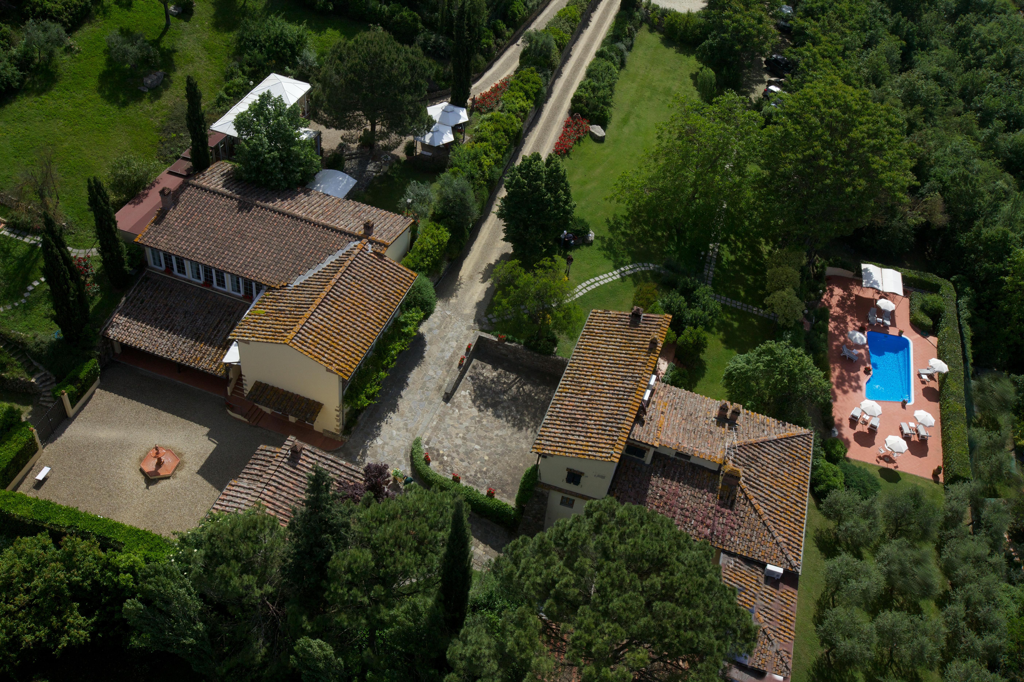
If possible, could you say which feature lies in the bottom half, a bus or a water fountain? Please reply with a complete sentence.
It is a water fountain that can be seen in the bottom half.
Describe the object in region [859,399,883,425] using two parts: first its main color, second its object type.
white umbrella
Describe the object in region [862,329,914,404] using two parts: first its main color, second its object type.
blue swimming pool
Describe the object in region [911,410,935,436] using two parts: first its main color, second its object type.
white umbrella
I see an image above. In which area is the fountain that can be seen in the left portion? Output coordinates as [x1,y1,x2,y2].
[140,447,180,480]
